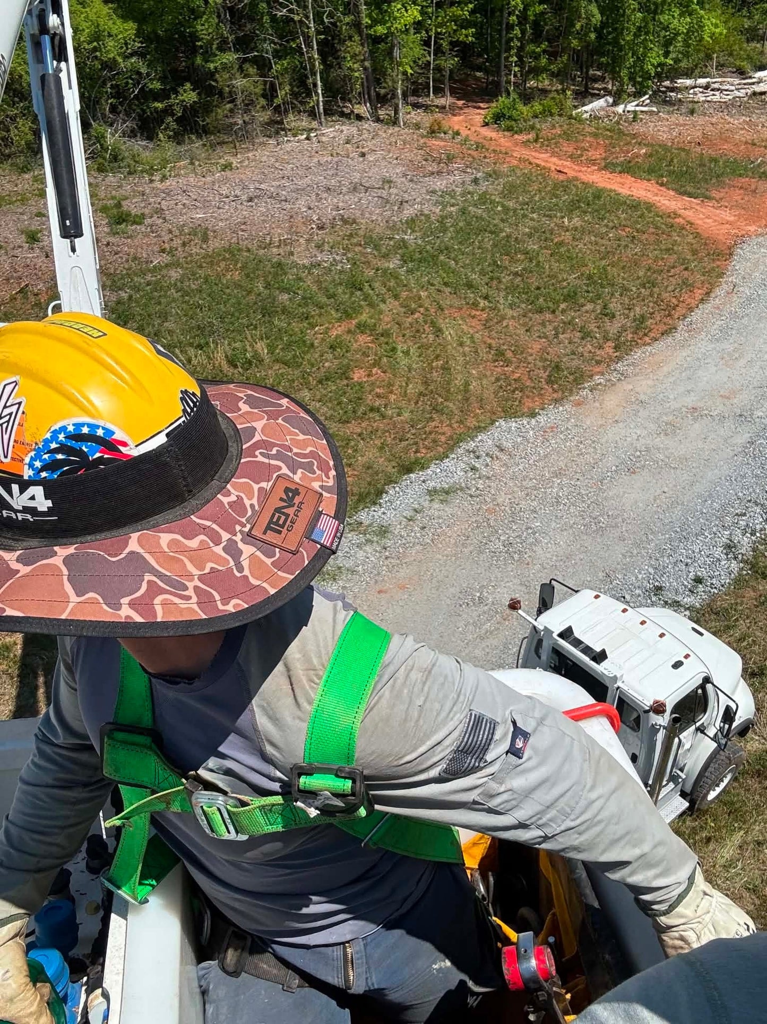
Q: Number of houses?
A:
0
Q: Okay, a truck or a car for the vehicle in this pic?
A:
truck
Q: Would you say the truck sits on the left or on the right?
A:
right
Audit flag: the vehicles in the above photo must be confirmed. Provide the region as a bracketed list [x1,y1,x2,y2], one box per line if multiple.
[507,579,754,817]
